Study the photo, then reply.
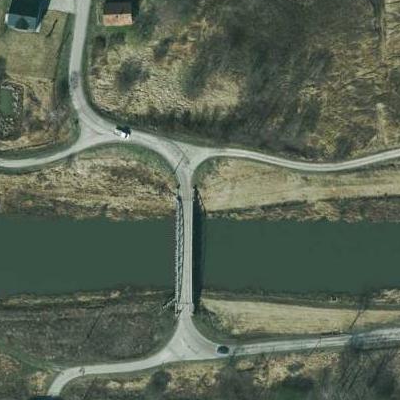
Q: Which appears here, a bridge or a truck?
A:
bridge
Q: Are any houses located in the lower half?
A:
No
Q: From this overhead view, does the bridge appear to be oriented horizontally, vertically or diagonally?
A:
vertically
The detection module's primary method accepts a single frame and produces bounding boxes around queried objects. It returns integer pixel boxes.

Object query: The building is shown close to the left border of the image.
[6,0,40,37]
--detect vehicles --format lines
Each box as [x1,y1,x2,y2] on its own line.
[217,347,230,353]
[115,129,129,139]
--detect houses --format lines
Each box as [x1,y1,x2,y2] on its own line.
[103,1,133,26]
[6,0,40,37]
